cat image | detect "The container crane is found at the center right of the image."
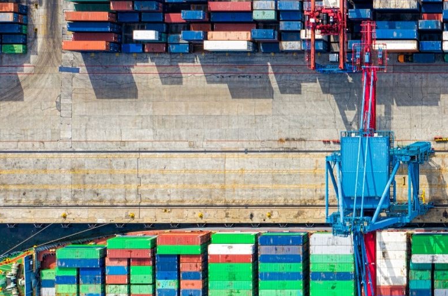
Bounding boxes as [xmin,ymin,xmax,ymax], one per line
[324,20,436,296]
